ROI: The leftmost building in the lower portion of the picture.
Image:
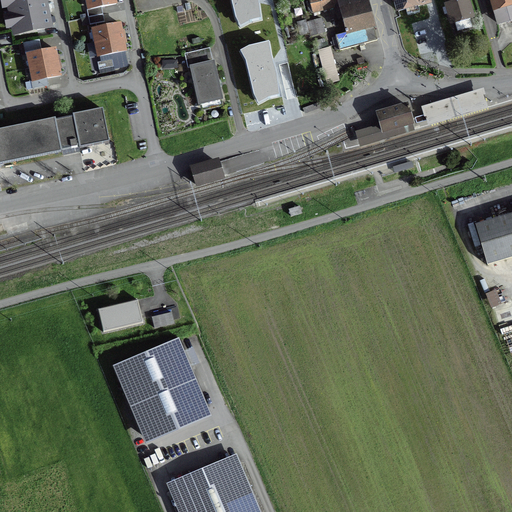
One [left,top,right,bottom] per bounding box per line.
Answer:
[98,300,143,332]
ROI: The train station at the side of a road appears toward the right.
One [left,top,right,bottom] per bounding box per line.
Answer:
[254,98,512,208]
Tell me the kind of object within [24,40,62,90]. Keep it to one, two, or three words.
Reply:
house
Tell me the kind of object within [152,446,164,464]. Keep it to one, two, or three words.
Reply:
vehicle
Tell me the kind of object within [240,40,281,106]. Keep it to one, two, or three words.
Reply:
building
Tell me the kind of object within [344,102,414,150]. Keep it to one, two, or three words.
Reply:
building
